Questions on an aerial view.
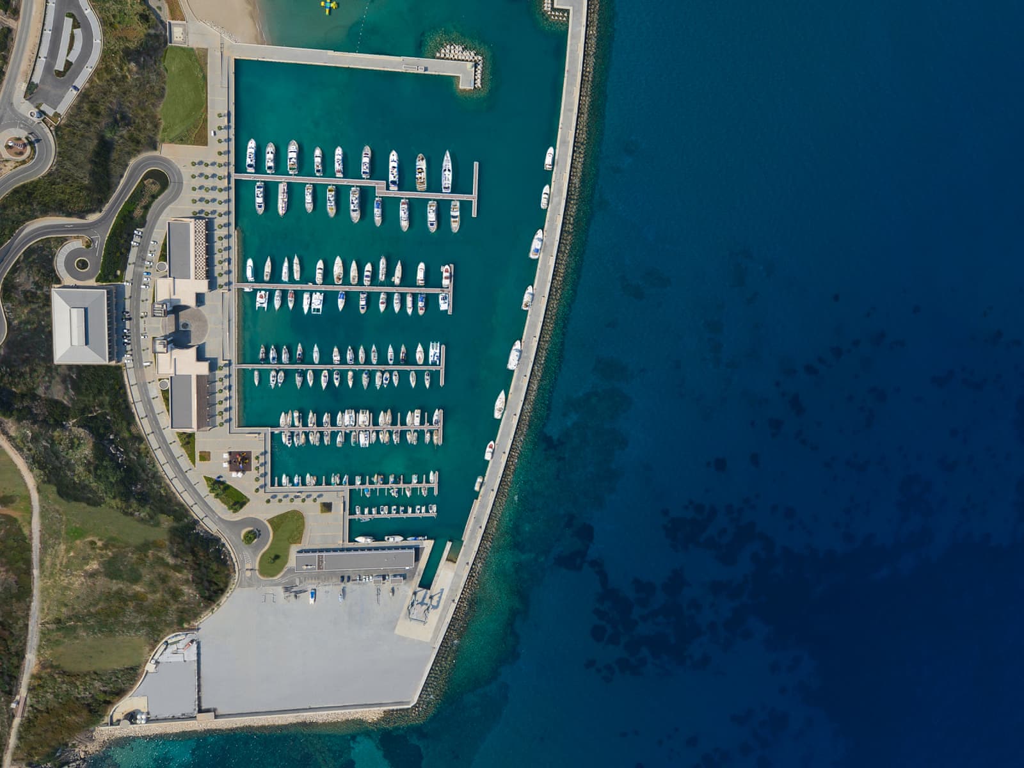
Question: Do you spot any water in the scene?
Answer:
Yes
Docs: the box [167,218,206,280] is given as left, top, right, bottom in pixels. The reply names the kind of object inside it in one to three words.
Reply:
building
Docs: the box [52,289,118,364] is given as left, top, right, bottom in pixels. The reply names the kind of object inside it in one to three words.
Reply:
building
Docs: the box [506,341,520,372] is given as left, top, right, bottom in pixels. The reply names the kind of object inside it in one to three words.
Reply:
boat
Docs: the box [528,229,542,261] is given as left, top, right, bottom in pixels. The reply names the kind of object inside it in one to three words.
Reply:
boat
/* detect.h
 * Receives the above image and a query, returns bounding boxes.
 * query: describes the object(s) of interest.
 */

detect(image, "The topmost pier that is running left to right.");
[228,41,475,89]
